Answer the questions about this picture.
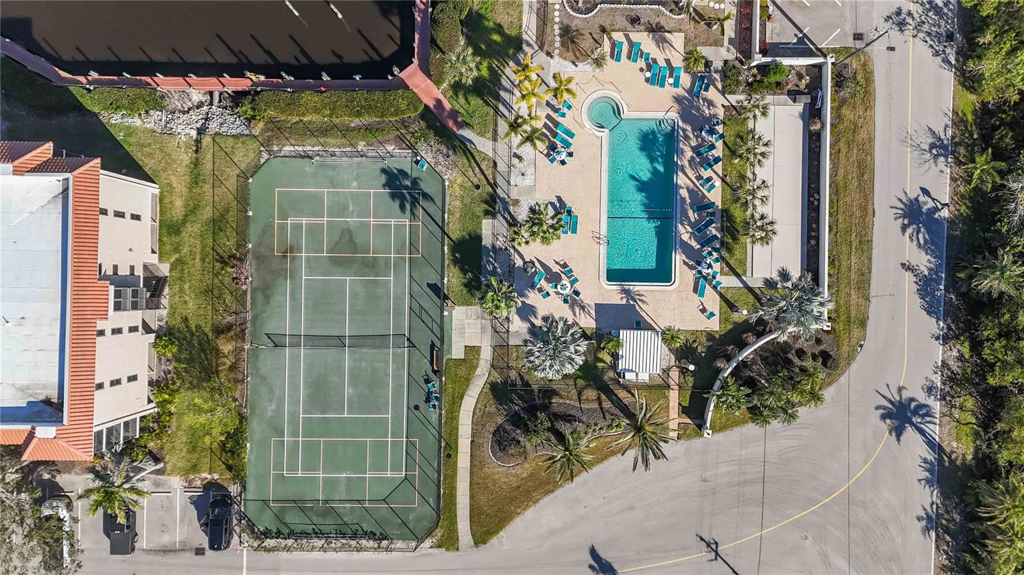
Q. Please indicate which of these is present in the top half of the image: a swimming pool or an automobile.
swimming pool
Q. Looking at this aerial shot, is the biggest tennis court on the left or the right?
left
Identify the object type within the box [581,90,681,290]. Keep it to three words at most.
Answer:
swimming pool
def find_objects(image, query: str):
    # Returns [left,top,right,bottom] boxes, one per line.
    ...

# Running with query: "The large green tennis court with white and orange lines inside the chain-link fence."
[244,157,445,541]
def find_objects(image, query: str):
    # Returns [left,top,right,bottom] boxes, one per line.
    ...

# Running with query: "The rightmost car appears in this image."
[204,491,233,545]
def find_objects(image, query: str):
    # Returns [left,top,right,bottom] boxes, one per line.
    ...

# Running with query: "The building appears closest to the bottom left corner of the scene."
[0,140,176,463]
